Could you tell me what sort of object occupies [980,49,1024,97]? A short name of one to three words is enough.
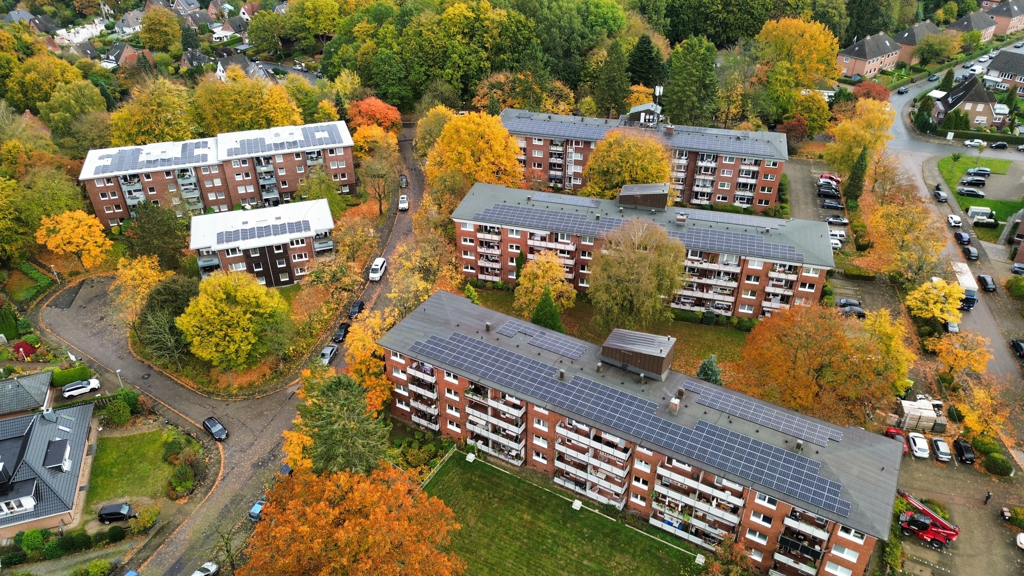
house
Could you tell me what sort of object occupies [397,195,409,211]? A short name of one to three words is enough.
vehicle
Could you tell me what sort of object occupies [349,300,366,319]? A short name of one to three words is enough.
car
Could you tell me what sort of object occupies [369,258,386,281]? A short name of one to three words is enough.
vehicle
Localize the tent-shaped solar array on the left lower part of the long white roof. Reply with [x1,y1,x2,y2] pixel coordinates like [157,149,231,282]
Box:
[93,142,208,175]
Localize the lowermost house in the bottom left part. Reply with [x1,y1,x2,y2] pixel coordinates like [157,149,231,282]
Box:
[0,401,95,542]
